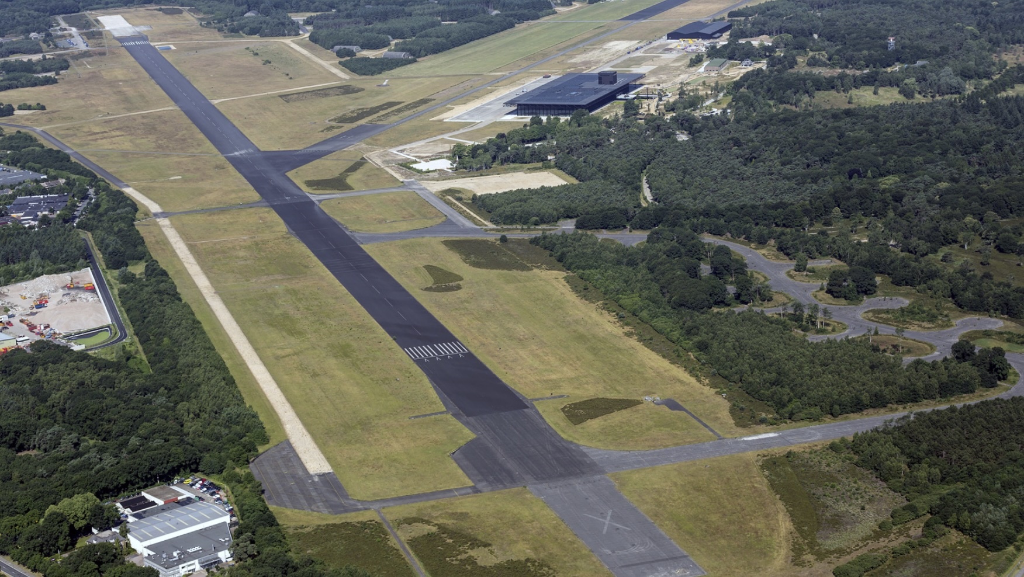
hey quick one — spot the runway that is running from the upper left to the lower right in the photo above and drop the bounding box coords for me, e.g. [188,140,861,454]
[114,35,530,416]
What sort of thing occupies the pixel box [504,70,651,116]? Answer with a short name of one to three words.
building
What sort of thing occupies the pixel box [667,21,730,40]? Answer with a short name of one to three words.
hangar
